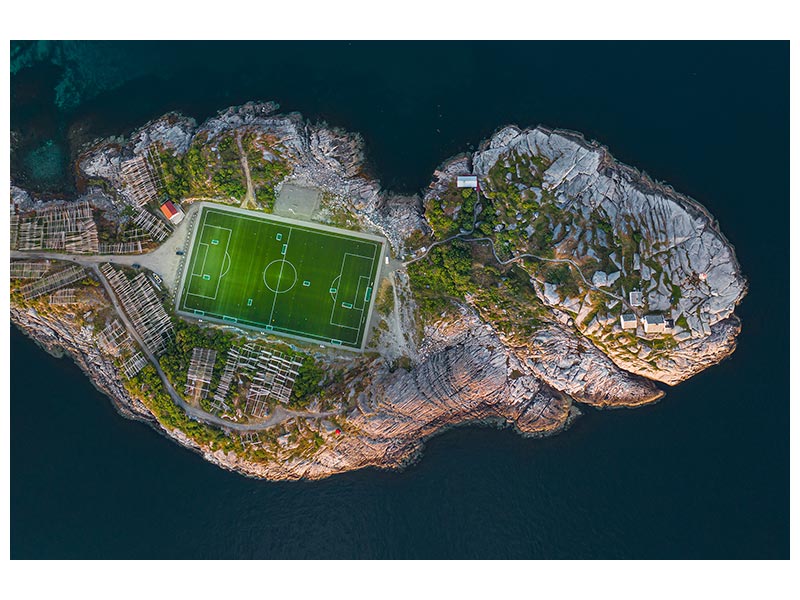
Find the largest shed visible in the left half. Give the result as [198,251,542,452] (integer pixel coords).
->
[162,202,188,227]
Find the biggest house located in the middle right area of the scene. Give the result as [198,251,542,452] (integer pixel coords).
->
[638,314,673,341]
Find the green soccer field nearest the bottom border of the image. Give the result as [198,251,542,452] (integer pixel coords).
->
[176,202,386,352]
